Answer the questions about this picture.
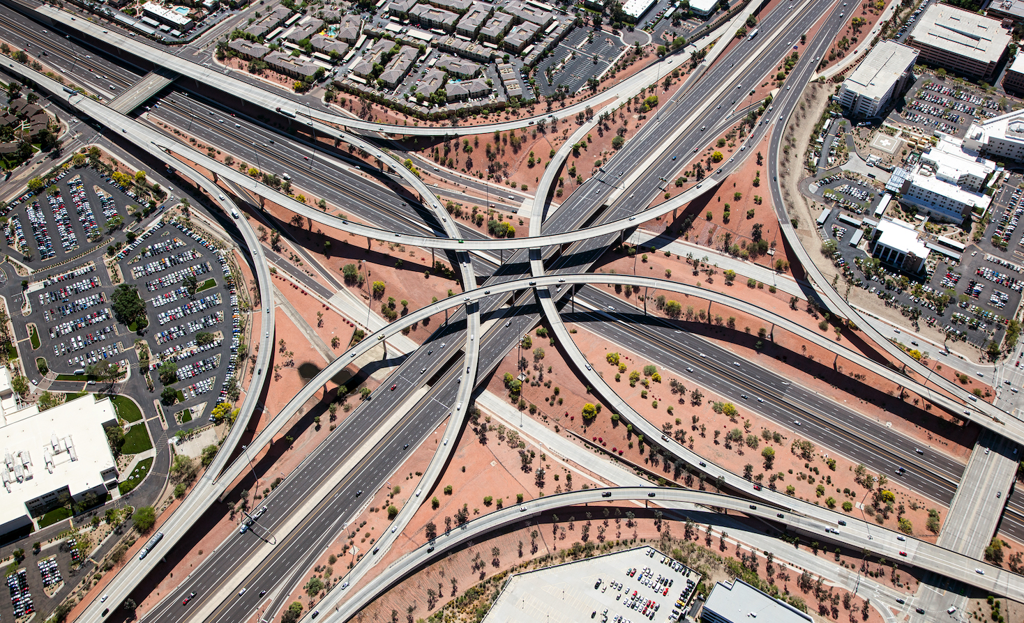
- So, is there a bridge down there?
Yes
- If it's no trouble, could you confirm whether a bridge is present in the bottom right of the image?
Yes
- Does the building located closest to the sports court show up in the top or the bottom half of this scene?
bottom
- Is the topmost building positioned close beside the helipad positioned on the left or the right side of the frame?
right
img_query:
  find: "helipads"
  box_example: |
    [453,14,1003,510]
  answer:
[869,132,902,155]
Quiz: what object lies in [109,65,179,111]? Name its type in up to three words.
bridge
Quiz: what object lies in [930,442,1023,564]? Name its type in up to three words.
bridge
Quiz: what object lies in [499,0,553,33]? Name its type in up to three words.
building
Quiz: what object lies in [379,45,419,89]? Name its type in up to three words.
building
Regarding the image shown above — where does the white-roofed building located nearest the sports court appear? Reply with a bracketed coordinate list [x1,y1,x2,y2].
[0,394,123,536]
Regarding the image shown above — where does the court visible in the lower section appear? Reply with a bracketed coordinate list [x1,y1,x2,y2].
[173,428,219,461]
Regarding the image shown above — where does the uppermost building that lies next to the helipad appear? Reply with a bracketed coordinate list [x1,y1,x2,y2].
[837,38,921,119]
